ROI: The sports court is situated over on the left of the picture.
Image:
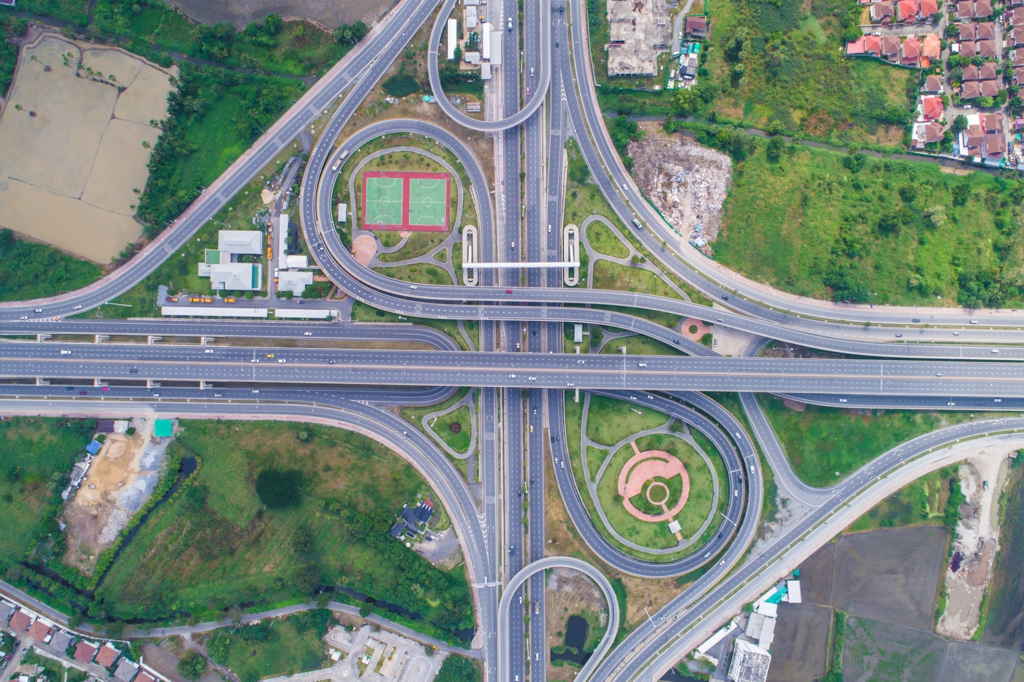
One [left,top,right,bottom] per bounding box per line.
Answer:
[362,171,450,231]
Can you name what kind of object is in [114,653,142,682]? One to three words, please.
house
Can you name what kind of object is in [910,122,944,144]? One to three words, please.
house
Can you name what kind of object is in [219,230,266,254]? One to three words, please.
building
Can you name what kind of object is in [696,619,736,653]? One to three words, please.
shed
